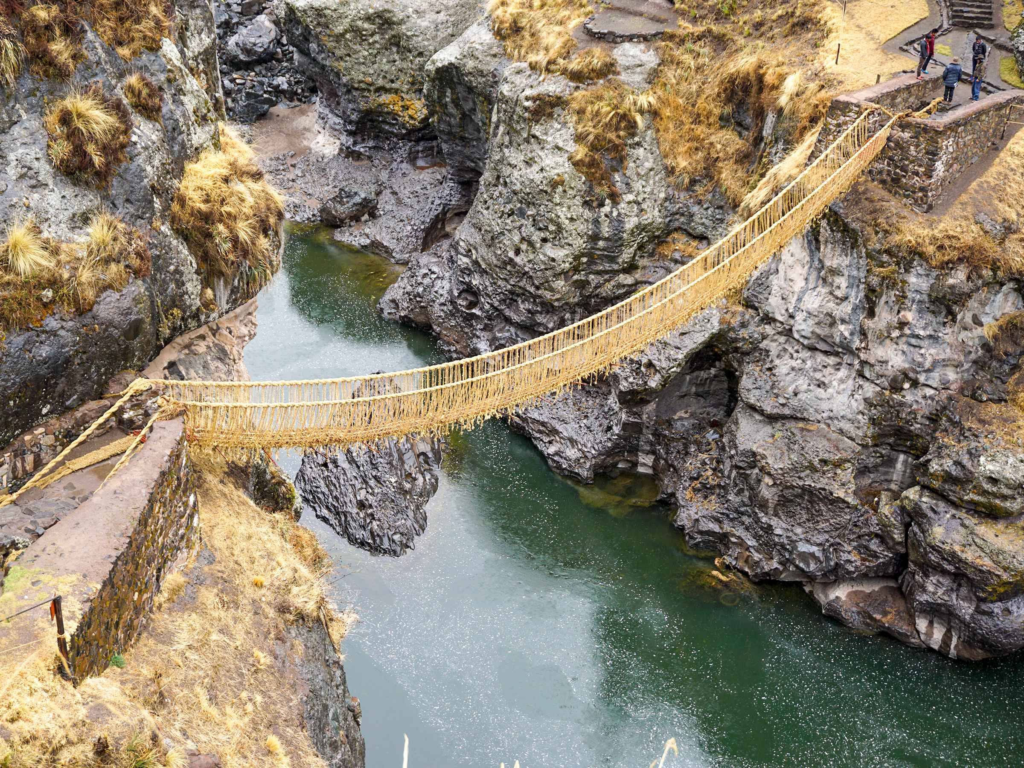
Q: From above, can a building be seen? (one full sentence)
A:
No, there isn't any building down there.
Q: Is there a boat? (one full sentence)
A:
No, I can't see a single boat in this photo.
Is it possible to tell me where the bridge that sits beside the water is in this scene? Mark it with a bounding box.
[0,95,952,506]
